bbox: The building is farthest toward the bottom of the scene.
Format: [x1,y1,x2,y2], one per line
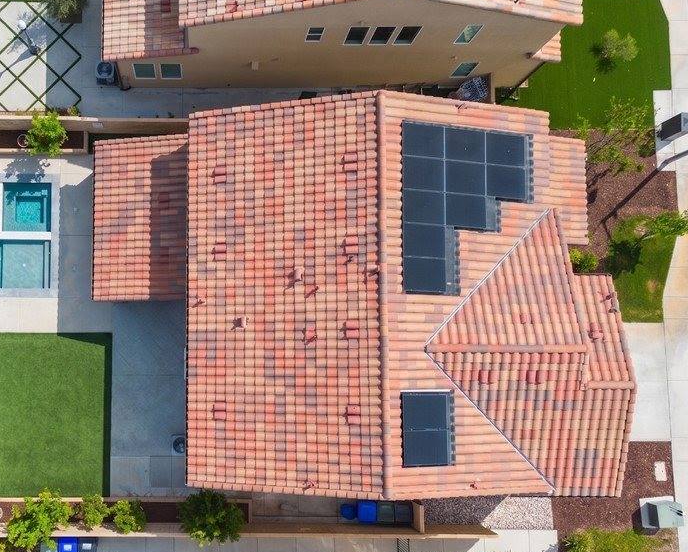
[90,90,643,498]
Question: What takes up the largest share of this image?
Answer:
buildings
